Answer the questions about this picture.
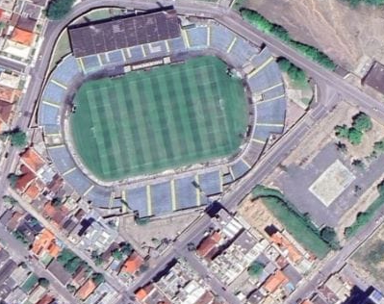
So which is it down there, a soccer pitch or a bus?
soccer pitch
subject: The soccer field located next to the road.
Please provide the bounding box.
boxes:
[73,57,249,181]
